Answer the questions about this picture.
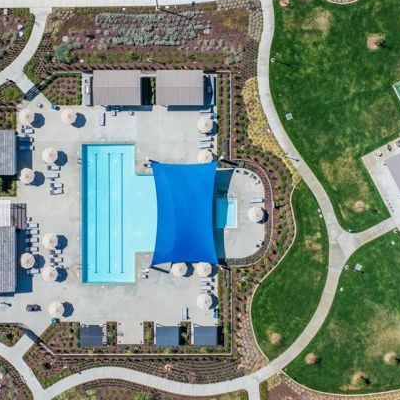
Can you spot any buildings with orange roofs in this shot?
No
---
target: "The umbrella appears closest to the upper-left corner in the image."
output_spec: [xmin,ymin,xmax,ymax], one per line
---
[20,108,36,124]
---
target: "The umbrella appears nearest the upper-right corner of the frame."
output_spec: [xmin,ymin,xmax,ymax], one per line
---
[198,117,214,133]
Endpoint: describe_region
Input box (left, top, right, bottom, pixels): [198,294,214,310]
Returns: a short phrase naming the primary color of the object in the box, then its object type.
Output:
white umbrella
